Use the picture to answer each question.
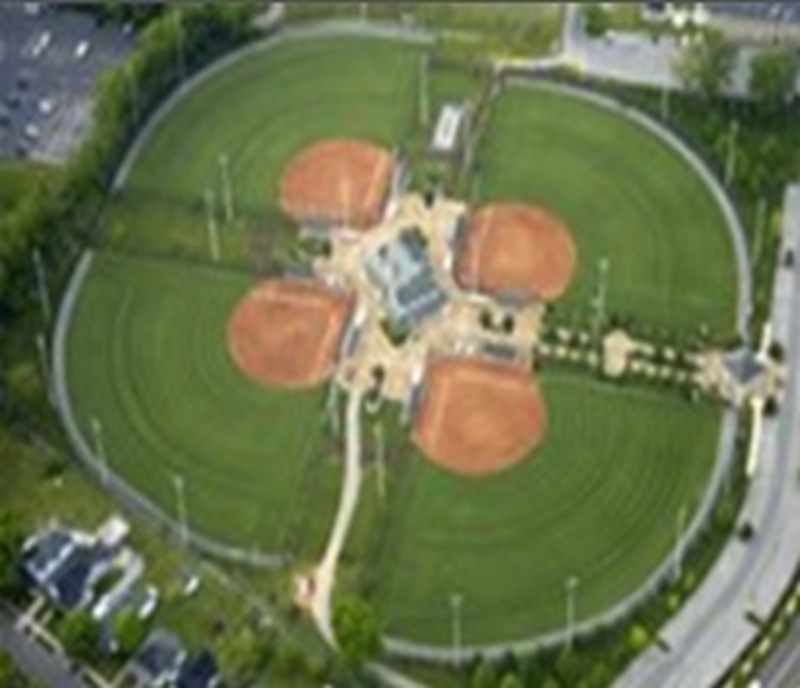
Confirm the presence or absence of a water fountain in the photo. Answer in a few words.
No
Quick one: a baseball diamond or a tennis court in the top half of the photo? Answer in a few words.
baseball diamond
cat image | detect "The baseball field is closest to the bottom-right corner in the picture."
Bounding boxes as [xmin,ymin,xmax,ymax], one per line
[382,355,740,658]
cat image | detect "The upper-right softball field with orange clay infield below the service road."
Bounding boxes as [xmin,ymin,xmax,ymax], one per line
[452,75,751,344]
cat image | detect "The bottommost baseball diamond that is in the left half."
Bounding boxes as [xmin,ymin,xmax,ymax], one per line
[52,251,356,565]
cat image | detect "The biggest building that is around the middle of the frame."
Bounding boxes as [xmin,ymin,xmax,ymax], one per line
[359,228,451,330]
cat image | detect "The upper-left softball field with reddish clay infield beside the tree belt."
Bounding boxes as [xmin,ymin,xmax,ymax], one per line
[113,22,438,230]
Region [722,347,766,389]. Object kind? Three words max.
building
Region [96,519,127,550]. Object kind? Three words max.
building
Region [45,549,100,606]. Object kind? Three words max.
house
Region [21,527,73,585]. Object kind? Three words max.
house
